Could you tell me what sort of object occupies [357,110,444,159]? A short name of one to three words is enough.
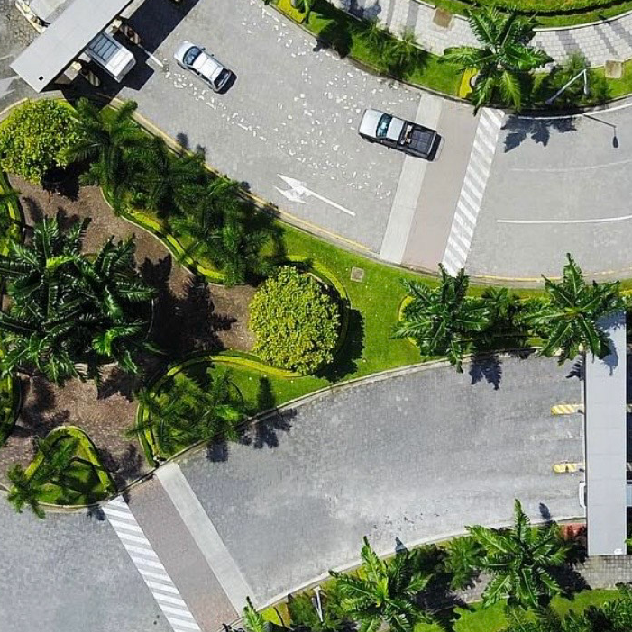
truck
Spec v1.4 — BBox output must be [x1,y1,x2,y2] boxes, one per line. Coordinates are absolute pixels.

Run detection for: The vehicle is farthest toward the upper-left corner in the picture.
[91,28,144,86]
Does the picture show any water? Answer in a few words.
No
